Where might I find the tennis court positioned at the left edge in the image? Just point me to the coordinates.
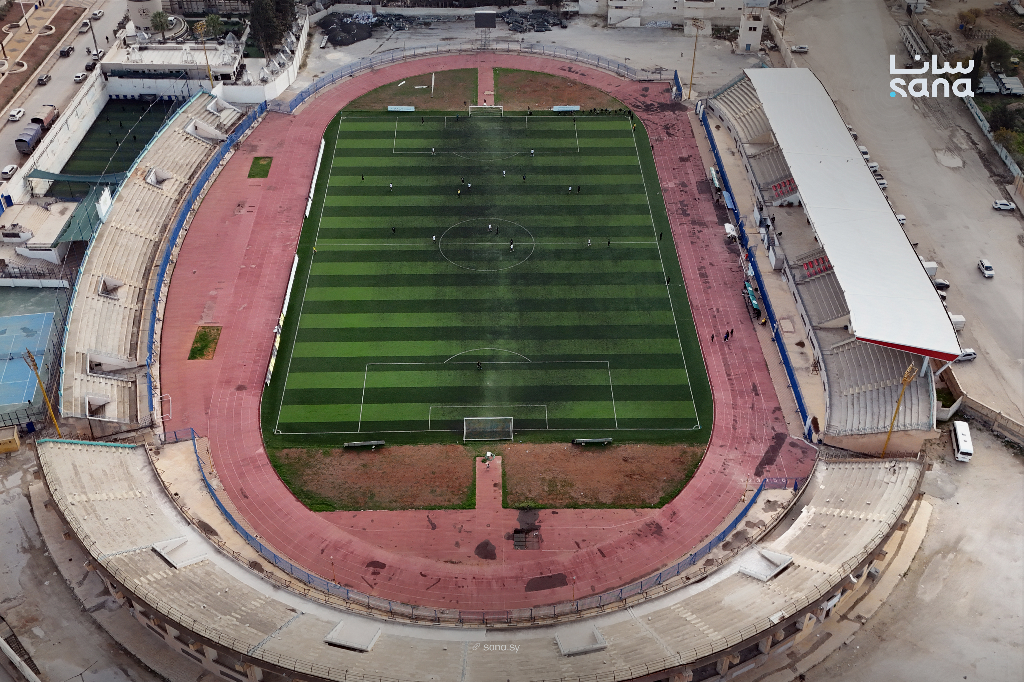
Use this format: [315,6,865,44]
[0,289,69,425]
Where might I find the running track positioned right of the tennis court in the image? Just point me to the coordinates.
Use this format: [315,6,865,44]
[159,53,818,613]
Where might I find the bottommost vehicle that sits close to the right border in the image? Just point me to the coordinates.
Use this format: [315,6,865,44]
[950,423,973,467]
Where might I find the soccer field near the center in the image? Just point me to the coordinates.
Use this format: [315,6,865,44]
[263,106,712,468]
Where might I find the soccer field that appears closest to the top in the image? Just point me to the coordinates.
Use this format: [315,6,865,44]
[48,95,185,197]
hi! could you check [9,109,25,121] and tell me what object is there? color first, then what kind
white vehicle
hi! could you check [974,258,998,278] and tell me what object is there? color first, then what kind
white car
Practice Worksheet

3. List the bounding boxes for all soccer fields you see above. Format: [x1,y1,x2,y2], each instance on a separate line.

[263,106,712,468]
[48,95,185,197]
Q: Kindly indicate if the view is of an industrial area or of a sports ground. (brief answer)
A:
sports ground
